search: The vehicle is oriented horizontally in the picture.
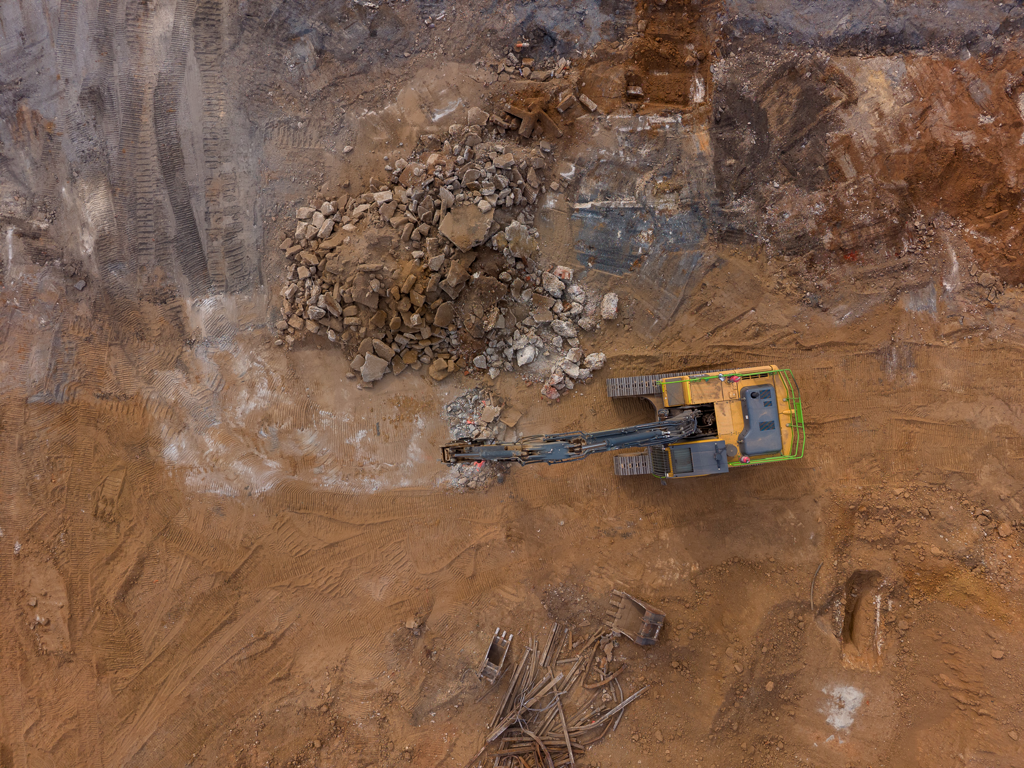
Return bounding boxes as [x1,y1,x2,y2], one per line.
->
[438,365,806,485]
